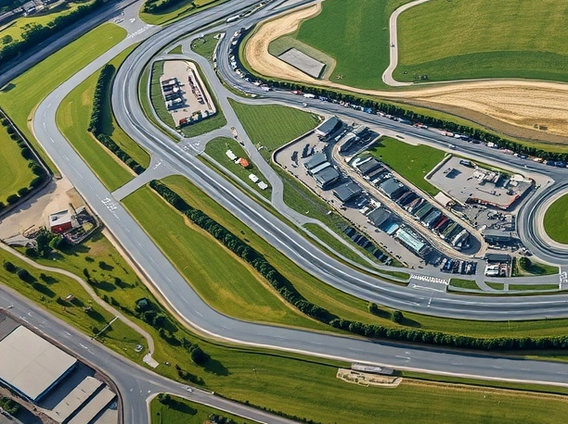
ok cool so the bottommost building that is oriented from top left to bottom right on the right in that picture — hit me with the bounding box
[394,227,423,256]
